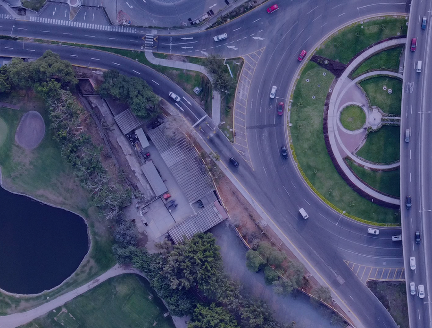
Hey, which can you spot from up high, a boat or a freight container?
freight container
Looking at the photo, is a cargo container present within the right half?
No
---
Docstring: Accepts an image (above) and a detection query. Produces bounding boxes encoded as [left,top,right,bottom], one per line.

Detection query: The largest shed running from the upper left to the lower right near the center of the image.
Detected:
[147,124,218,203]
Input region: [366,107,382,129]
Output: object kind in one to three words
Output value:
fountain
